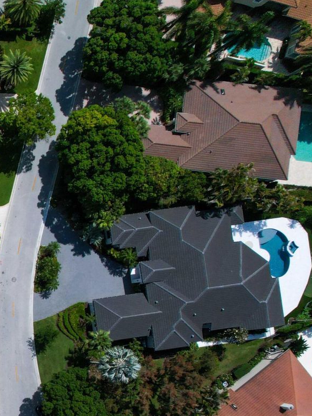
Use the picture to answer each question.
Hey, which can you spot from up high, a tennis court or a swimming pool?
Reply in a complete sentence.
I can see a swimming pool in this picture.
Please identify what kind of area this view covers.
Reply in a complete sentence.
It's a residential area.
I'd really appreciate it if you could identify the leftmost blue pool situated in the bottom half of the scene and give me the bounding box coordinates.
[257,227,290,278]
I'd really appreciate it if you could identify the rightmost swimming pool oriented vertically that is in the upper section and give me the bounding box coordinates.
[293,106,312,163]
